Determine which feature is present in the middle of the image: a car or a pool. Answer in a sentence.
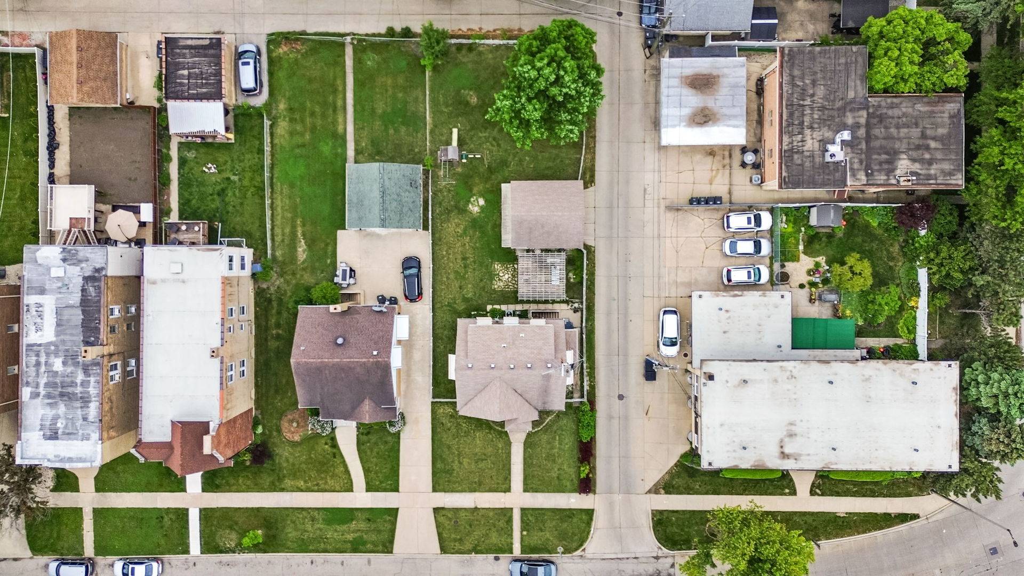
It is a car that can be seen in the middle of the image.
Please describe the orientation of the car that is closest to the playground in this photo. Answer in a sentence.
In this picture, the car that is closest to the playground lies from top to bottom.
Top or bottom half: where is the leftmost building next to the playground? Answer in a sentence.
Seen from above, the leftmost building next to the playground lies in the top half of the view.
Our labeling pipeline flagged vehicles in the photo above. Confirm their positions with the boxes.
[723,209,770,233]
[53,554,100,576]
[638,0,660,33]
[401,257,423,302]
[724,236,770,259]
[509,556,555,576]
[723,263,767,286]
[117,555,165,576]
[238,47,264,97]
[657,308,681,354]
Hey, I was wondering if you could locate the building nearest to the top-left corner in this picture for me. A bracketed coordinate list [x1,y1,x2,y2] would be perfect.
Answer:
[48,27,131,110]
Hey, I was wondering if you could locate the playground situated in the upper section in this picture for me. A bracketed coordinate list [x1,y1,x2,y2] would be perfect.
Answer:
[438,128,482,183]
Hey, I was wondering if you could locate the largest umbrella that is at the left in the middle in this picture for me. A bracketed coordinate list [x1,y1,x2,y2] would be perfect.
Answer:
[107,209,139,247]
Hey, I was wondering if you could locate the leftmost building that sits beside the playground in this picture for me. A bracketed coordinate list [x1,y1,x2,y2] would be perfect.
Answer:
[346,161,423,232]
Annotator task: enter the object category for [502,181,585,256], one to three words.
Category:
building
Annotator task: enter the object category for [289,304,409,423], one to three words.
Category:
house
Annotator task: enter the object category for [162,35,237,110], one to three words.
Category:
building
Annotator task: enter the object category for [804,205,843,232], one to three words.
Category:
shed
